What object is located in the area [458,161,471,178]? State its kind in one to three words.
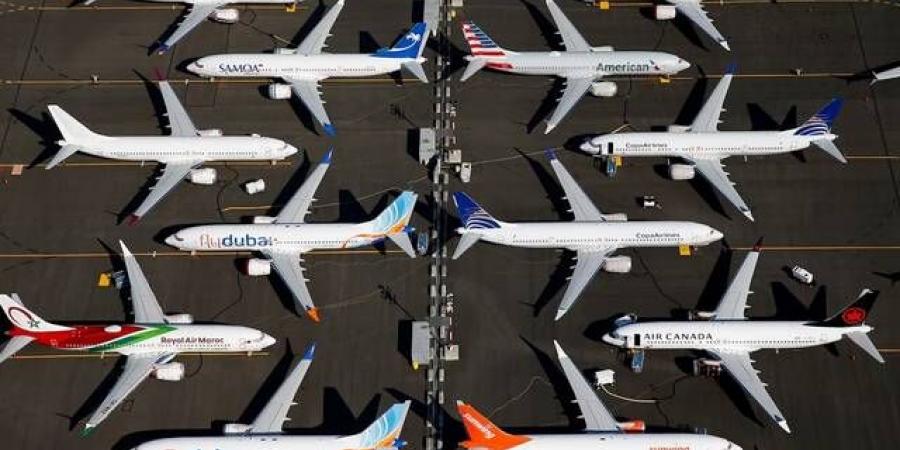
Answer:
vehicle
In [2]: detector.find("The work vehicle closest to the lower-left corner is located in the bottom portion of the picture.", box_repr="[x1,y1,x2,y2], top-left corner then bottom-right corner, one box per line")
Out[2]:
[96,272,111,286]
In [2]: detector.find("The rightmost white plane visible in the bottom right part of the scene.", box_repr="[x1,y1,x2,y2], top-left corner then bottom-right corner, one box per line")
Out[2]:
[601,245,883,428]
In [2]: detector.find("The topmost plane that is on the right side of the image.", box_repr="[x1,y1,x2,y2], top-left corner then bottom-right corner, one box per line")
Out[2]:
[654,0,726,49]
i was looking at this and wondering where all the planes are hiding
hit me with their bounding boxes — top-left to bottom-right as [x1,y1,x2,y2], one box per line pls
[454,348,742,450]
[461,0,692,131]
[163,155,420,318]
[451,154,725,317]
[127,348,415,450]
[185,0,431,133]
[46,75,298,222]
[147,0,294,52]
[654,0,726,49]
[579,69,846,217]
[601,245,883,428]
[869,68,900,84]
[0,249,276,431]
